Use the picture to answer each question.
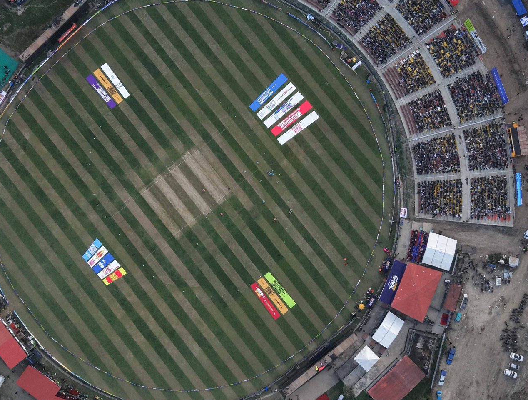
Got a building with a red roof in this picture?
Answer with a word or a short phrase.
Yes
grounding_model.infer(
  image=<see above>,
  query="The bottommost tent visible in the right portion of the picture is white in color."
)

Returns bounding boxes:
[353,345,379,372]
